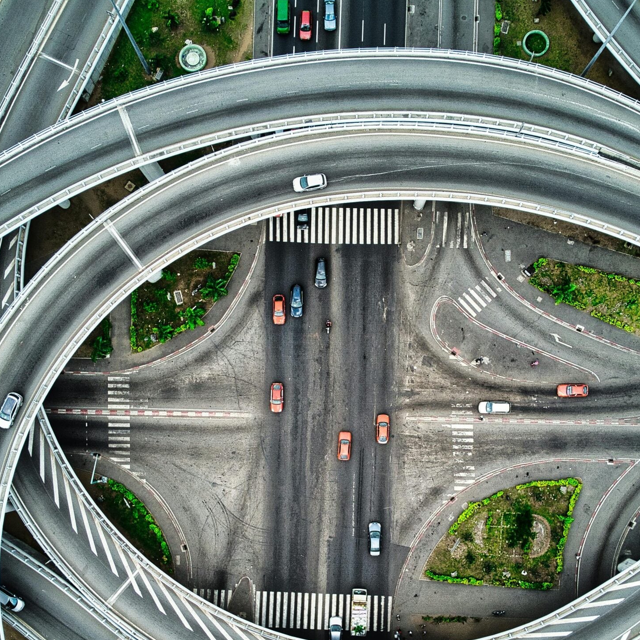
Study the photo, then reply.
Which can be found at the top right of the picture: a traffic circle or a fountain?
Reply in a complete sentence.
It is a fountain that can be seen at the top right of the picture.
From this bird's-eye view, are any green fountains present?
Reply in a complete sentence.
Yes, you can see a green fountain in this photo.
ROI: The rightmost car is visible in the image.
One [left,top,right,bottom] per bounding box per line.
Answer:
[556,384,588,397]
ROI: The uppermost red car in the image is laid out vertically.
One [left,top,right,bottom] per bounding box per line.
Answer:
[298,10,313,41]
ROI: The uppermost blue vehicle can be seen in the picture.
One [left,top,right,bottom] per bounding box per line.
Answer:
[323,0,337,32]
